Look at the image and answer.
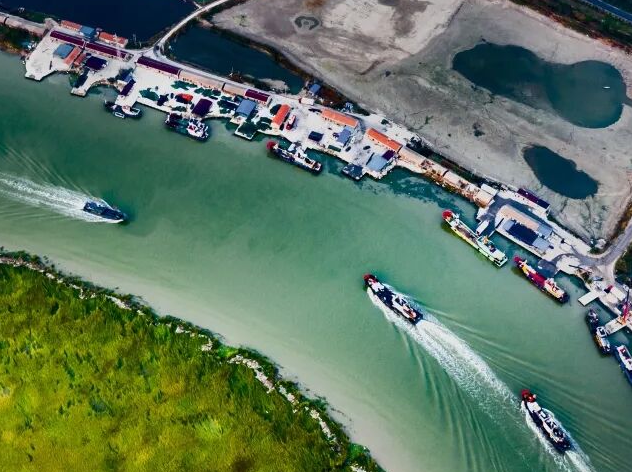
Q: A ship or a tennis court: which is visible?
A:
ship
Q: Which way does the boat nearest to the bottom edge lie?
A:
on a diagonal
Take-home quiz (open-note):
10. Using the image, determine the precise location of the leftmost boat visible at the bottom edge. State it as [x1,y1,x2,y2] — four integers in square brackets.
[522,390,578,454]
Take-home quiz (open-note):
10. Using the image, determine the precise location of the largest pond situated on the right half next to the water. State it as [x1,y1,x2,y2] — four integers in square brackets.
[453,44,627,129]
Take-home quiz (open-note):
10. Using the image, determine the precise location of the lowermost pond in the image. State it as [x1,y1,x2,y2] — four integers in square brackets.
[523,146,597,200]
